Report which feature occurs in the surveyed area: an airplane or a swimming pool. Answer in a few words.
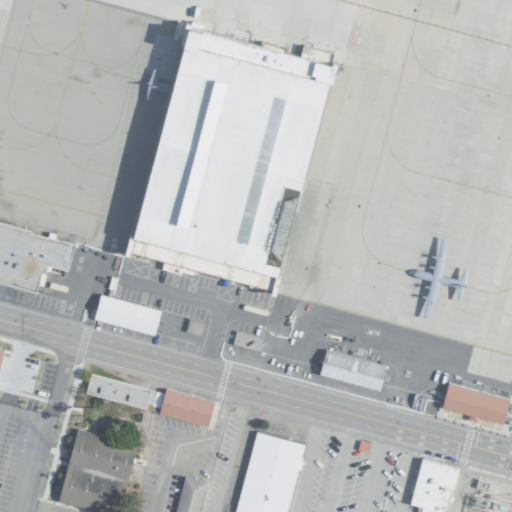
airplane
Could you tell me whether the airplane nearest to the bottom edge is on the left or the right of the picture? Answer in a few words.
right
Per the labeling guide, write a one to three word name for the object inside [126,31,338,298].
hangar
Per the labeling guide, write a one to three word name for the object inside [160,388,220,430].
building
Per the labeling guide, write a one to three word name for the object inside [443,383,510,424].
building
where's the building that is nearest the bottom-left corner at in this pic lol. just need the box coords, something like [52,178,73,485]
[60,429,137,512]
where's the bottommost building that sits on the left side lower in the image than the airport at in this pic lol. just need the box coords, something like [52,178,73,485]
[176,477,208,512]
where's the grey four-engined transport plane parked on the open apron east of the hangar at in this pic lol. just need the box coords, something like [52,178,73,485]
[414,239,468,319]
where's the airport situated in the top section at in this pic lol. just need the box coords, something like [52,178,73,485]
[0,0,512,382]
